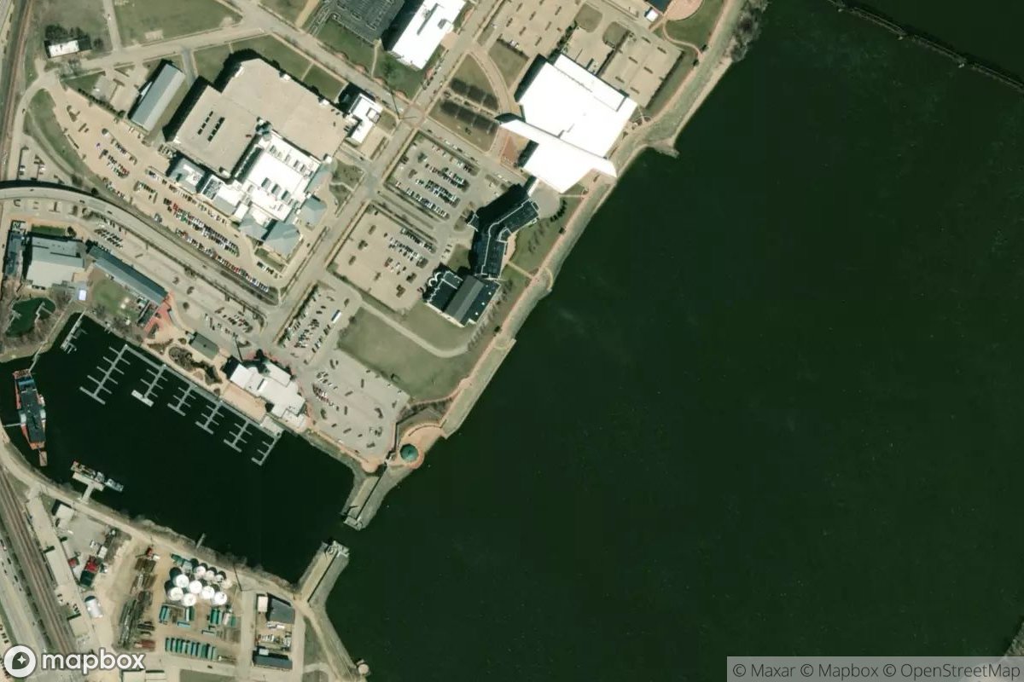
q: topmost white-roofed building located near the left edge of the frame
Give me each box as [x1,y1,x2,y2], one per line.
[47,40,80,57]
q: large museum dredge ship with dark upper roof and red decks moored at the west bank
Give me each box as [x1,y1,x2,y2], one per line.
[3,356,47,450]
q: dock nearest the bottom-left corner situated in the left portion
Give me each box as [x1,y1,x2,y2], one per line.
[72,472,104,505]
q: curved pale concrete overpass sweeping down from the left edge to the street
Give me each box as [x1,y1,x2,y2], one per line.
[0,187,271,319]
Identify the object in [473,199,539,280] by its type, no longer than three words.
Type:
building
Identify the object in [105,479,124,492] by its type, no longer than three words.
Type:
boat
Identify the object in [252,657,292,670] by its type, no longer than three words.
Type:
building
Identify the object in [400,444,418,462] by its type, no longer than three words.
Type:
gazebo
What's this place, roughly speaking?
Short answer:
port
